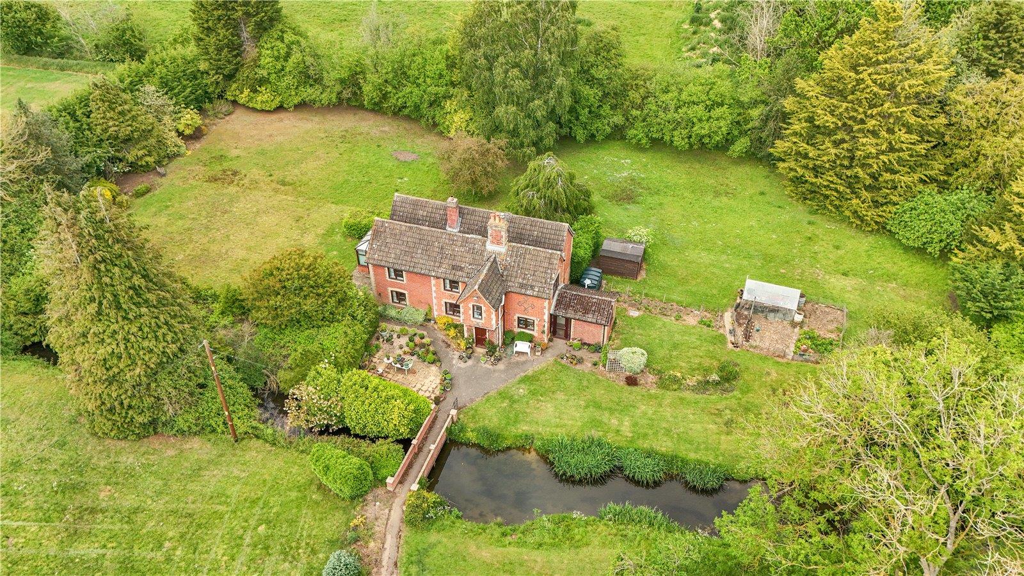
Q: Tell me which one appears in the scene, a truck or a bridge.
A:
bridge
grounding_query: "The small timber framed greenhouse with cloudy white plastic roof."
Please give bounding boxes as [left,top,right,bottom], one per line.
[742,277,804,321]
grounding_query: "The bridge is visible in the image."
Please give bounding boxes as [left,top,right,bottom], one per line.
[385,402,457,500]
